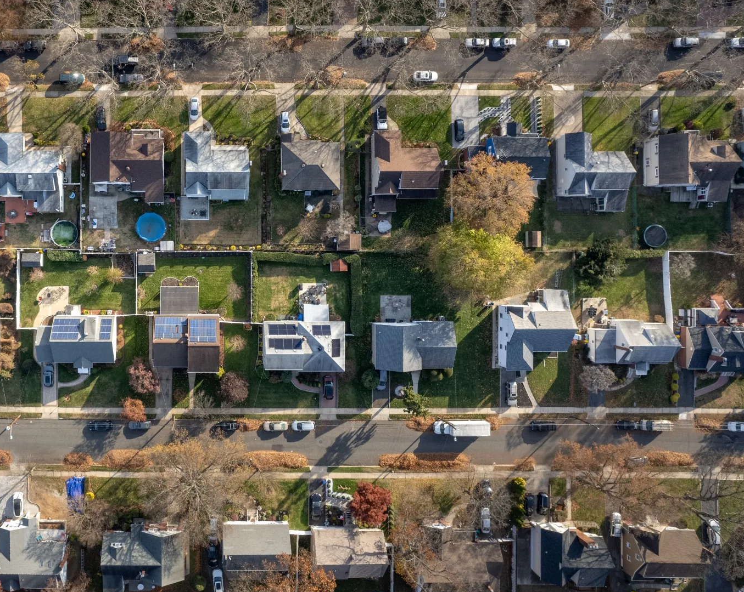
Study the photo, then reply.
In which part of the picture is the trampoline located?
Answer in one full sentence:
The trampoline is in the right part of the image.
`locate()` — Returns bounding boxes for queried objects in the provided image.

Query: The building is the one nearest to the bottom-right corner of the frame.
[619,523,716,581]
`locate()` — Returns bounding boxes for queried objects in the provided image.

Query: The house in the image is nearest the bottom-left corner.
[0,522,72,592]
